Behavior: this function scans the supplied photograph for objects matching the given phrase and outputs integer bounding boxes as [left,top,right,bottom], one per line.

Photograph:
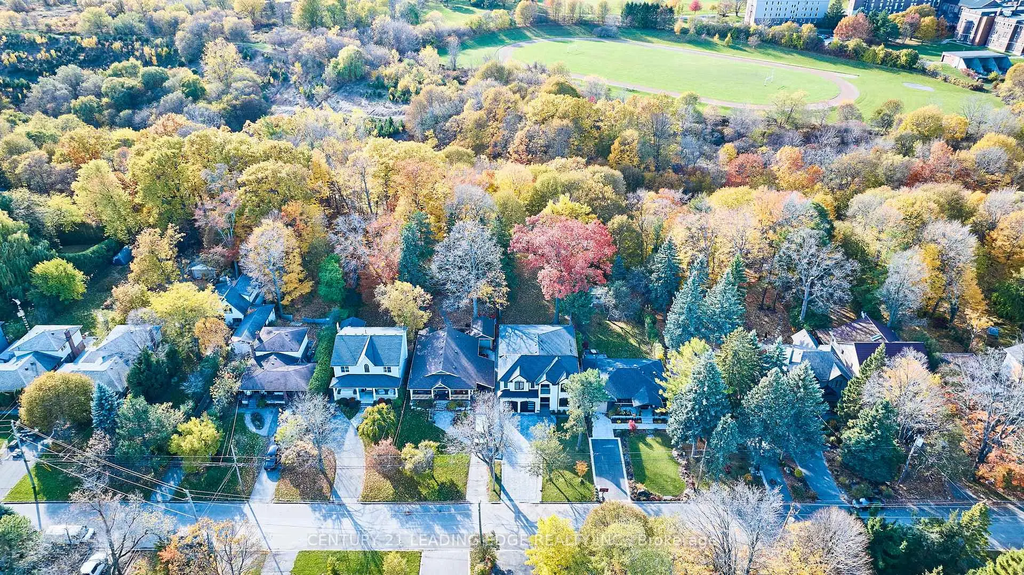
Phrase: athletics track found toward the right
[497,37,860,109]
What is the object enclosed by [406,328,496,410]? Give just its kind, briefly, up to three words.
house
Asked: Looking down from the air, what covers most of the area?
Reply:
trees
